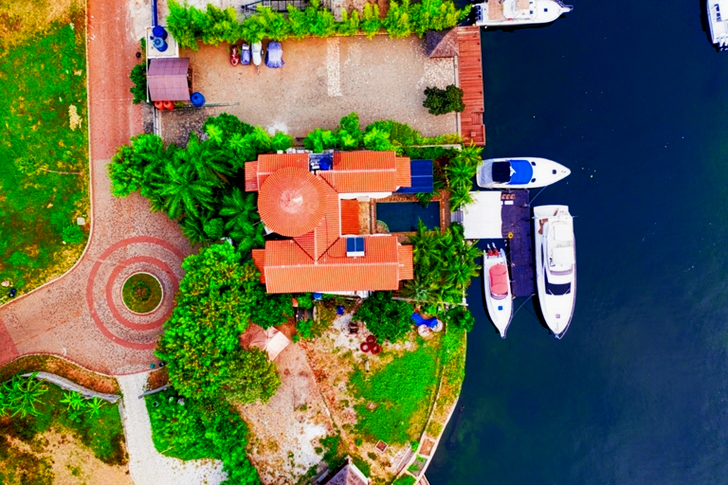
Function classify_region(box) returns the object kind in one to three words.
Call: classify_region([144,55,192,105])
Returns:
shed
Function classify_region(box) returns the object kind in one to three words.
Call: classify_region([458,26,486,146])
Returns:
pier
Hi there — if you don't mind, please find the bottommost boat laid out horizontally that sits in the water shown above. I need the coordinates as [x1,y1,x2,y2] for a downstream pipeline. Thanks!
[473,156,573,188]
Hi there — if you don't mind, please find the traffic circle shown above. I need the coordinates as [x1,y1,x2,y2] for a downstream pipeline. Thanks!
[87,238,196,348]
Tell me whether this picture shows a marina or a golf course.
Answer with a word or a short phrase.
marina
